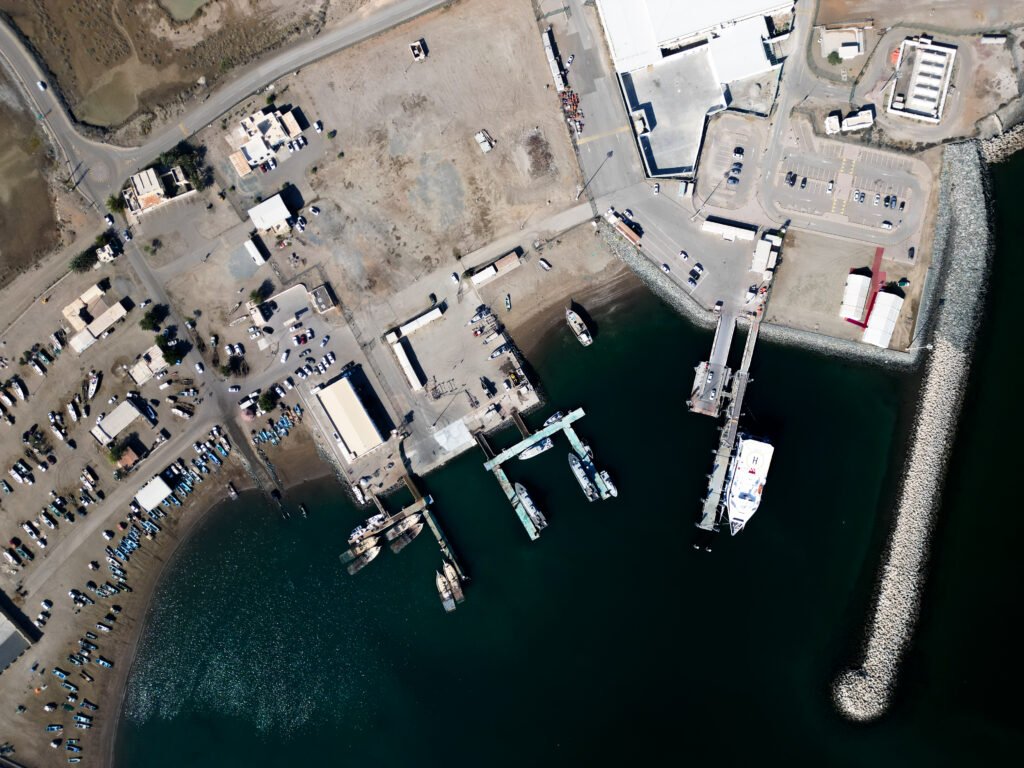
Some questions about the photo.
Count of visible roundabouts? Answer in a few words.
1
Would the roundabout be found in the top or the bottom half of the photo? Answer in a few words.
top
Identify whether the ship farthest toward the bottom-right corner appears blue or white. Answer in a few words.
white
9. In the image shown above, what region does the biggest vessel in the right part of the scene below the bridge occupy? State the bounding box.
[722,432,774,536]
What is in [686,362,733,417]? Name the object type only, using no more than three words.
pier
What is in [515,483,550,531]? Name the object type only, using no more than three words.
boat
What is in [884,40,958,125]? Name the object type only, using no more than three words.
building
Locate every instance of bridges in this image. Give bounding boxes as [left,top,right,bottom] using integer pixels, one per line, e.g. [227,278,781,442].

[709,314,736,366]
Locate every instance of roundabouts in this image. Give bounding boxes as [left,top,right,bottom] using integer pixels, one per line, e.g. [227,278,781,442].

[70,143,136,197]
